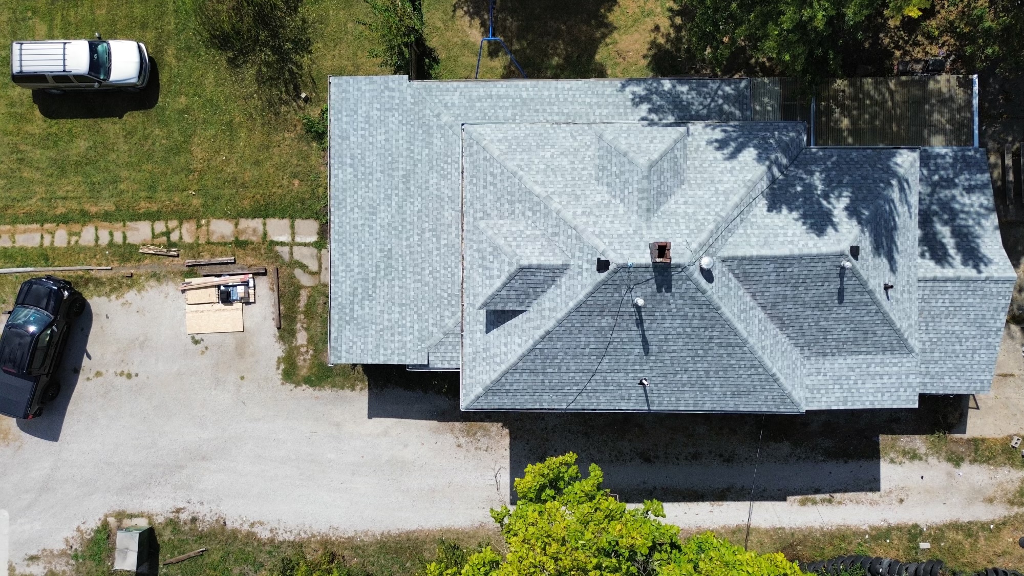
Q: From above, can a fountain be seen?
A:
No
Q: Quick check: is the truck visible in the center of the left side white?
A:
No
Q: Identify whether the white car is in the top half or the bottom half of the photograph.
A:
top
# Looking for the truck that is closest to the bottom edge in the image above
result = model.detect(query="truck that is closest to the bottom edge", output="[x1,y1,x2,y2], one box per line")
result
[0,275,82,422]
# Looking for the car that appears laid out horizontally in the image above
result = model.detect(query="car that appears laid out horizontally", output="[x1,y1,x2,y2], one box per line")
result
[9,30,152,92]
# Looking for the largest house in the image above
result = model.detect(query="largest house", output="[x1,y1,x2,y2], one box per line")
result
[325,74,1018,415]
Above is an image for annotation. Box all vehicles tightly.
[9,30,152,92]
[0,275,82,422]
